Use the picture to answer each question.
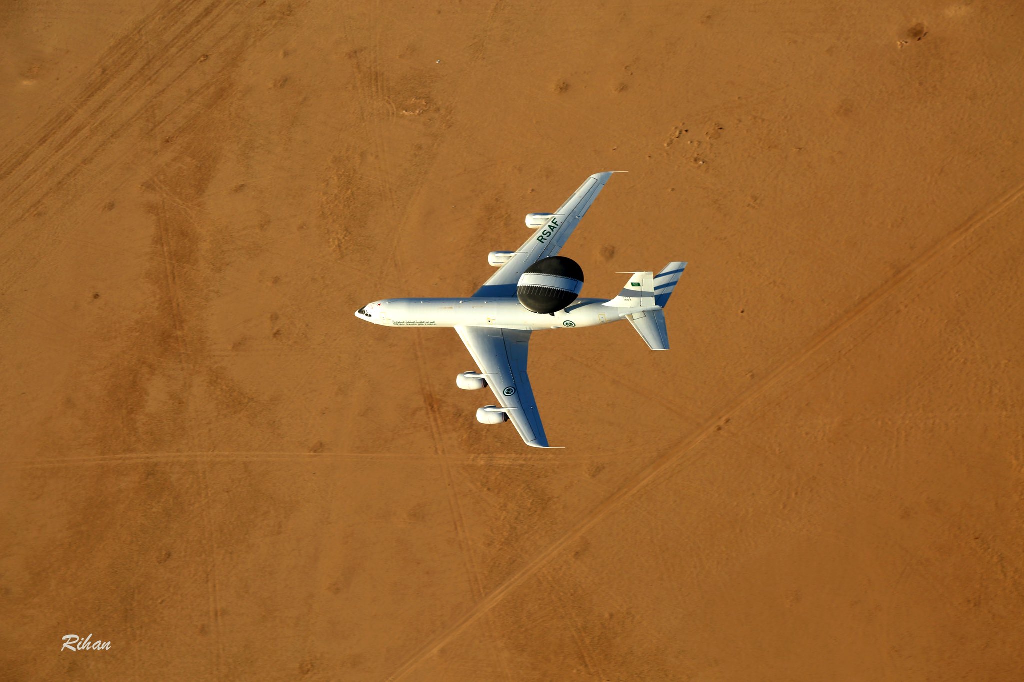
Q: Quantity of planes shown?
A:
1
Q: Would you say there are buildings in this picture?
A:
No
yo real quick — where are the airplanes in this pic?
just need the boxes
[355,172,689,448]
